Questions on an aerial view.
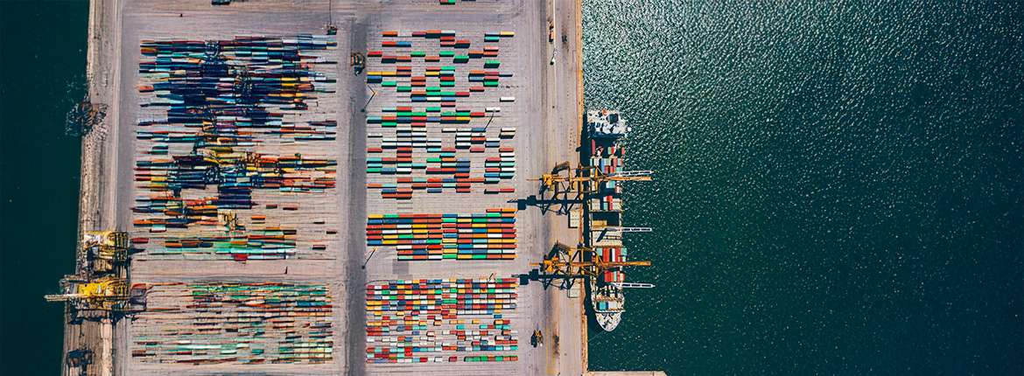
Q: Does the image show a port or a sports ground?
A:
port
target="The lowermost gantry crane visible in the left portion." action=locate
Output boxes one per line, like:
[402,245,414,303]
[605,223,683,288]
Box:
[46,272,137,314]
